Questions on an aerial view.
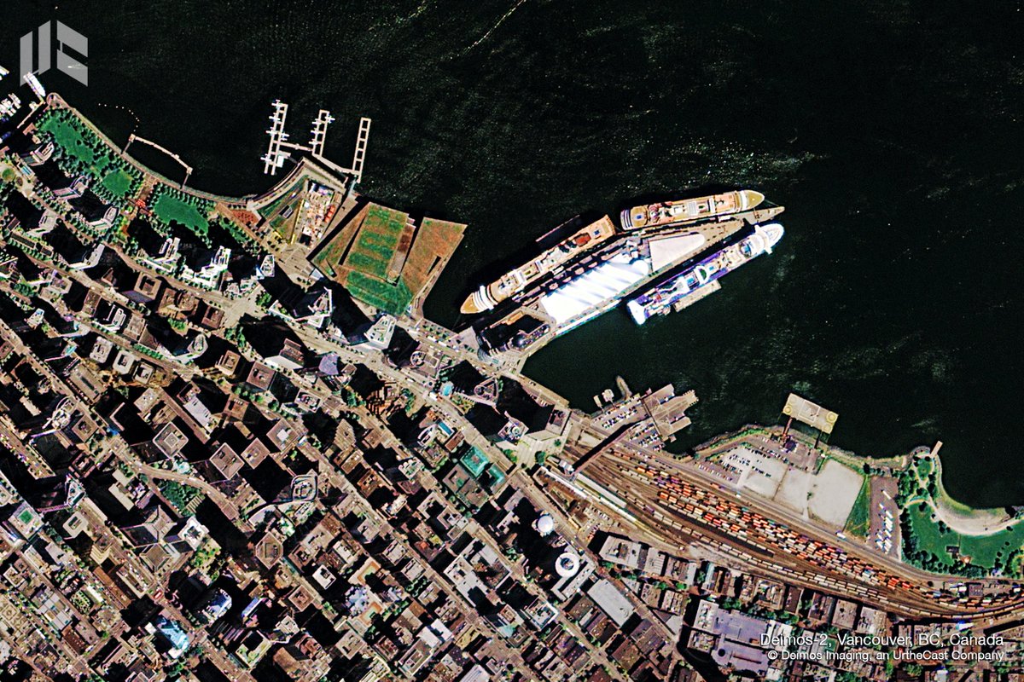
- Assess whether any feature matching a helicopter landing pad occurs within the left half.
No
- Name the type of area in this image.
port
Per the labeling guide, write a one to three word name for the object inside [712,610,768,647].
building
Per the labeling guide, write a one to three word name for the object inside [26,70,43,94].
boat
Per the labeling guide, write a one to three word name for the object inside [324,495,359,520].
building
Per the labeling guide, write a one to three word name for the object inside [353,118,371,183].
pier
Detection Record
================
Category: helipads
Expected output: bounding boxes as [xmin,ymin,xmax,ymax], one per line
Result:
[782,393,838,434]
